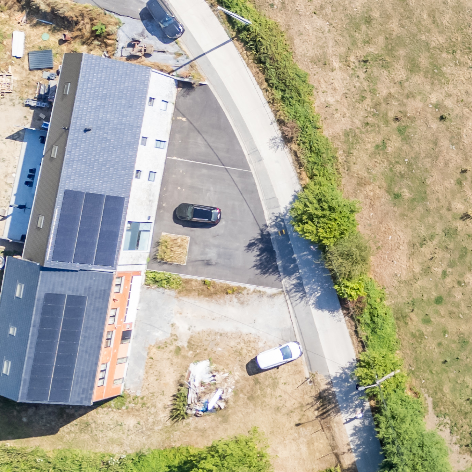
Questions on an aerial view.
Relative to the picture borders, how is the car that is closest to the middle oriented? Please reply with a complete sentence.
The car that is closest to the middle is laid out horizontally.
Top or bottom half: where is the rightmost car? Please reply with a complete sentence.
Seen from above, the rightmost car lies in the bottom half of the view.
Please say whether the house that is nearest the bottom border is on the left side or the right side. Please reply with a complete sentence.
You can find the house that is nearest the bottom border on the left side of the picture.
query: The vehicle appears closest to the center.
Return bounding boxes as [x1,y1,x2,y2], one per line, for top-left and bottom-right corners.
[175,200,225,227]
